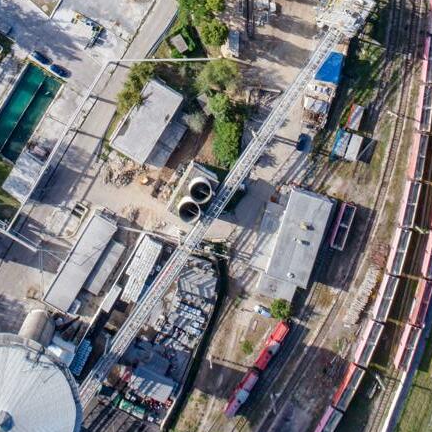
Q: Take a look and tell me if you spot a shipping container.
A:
Yes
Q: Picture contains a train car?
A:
Yes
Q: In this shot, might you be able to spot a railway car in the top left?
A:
No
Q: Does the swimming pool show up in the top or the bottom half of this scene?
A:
top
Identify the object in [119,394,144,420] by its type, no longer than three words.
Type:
shipping container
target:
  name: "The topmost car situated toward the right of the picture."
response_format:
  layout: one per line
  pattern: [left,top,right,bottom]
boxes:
[298,133,311,152]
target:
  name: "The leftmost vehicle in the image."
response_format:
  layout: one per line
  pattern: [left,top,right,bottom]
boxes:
[32,51,48,64]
